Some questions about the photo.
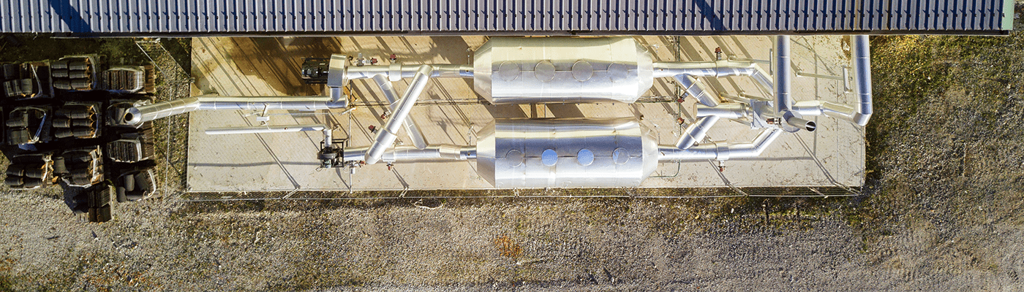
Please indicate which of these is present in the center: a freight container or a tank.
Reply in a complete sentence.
It is a tank that can be seen in the center.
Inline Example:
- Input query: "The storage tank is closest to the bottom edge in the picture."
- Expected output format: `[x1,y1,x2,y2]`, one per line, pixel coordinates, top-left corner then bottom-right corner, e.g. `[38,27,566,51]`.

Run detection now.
[476,118,661,190]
